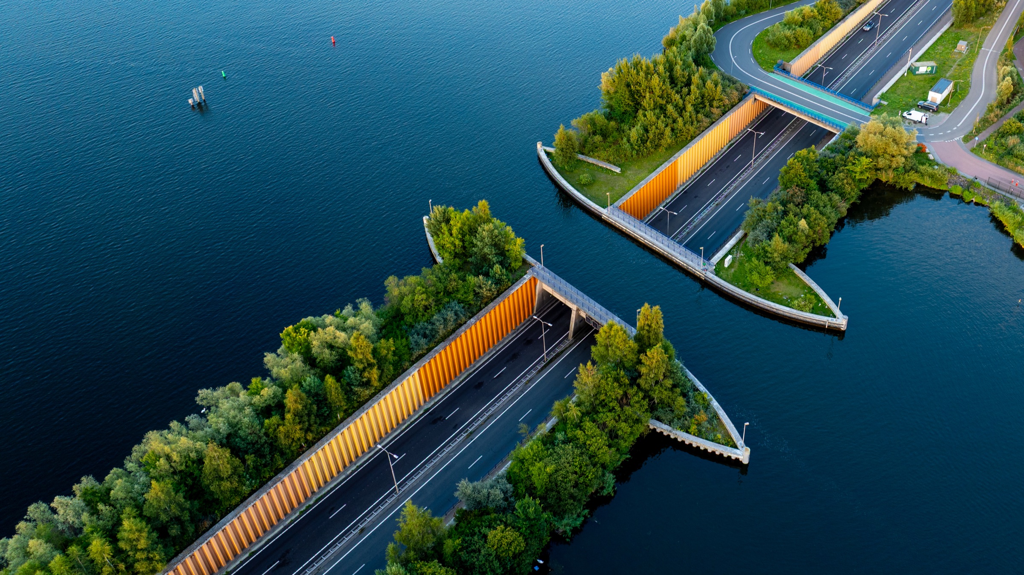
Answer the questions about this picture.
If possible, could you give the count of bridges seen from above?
2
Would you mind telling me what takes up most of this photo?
water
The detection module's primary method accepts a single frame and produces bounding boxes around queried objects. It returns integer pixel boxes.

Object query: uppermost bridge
[749,71,875,133]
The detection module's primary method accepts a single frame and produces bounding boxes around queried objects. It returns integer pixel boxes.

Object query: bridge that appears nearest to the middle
[532,214,705,344]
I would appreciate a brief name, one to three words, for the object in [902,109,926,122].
vehicle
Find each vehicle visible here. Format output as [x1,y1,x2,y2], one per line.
[902,109,926,122]
[916,101,939,112]
[864,21,875,30]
